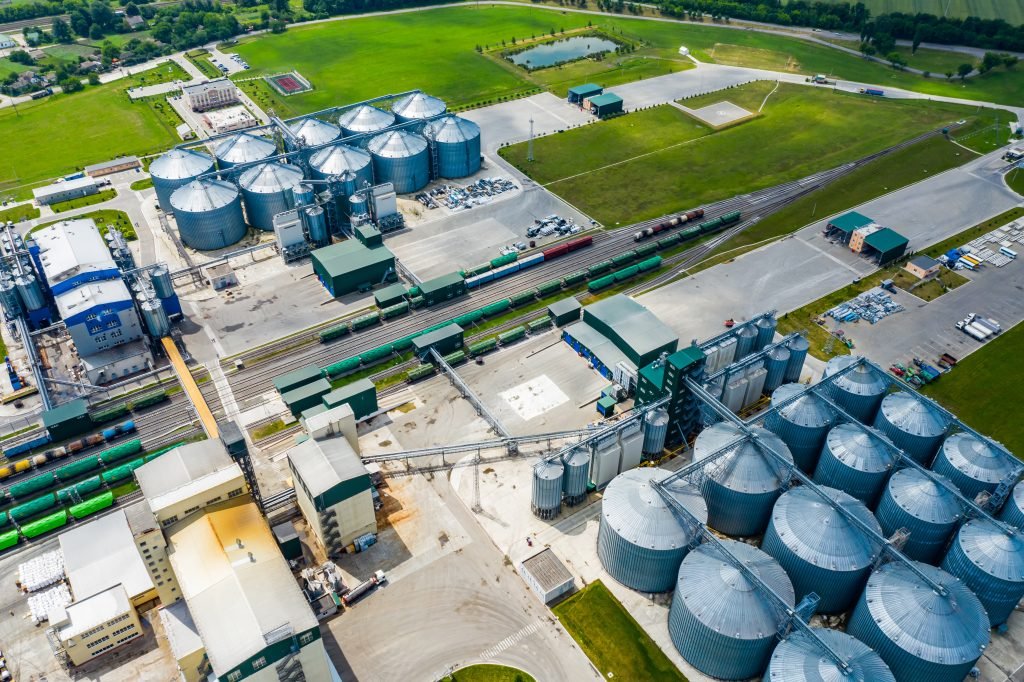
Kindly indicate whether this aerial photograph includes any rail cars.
Yes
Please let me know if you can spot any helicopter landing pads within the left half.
No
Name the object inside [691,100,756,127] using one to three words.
helipad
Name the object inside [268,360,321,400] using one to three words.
shed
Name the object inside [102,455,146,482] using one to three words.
rail car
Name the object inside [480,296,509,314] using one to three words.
rail car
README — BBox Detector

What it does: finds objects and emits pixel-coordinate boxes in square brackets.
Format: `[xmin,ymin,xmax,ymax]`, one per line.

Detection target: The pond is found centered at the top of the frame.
[513,36,618,69]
